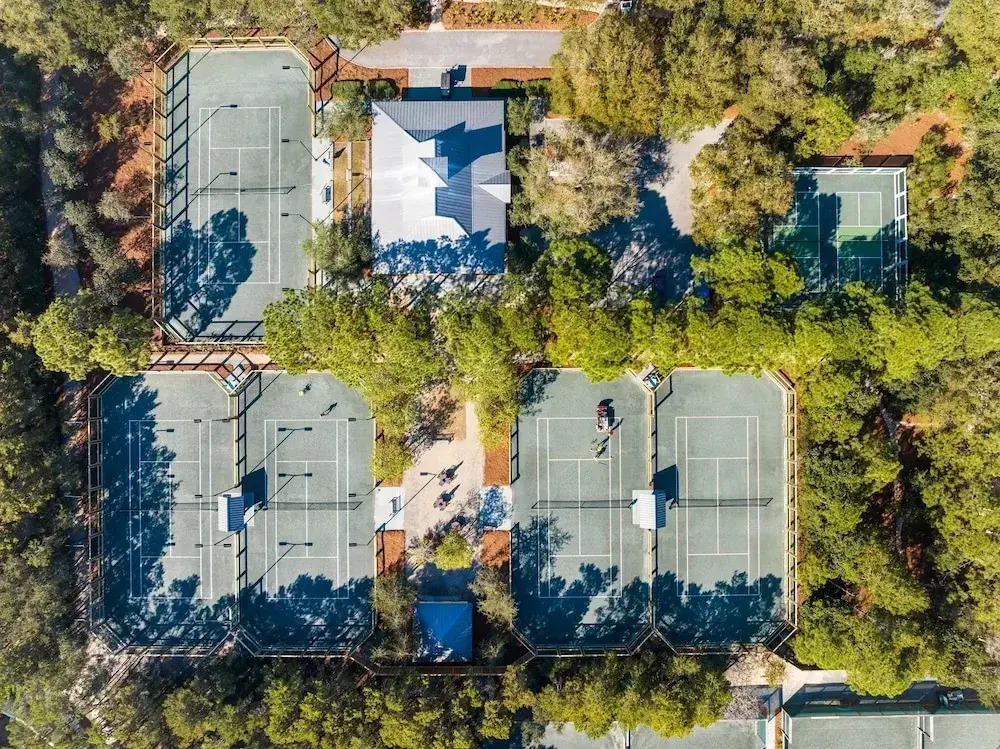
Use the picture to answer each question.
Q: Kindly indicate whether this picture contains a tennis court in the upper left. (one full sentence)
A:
Yes, a tennis court shows up in the upper left.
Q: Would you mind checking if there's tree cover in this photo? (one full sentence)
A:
Yes, some tree cover is visible.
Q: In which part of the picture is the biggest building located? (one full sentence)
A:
The biggest building appears toward the top of the photo.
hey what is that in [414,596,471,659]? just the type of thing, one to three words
building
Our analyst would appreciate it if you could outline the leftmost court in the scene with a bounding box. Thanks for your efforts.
[104,376,238,645]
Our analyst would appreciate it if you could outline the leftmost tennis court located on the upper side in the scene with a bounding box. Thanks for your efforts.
[167,50,313,340]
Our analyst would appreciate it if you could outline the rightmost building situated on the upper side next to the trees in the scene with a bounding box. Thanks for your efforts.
[371,100,512,274]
